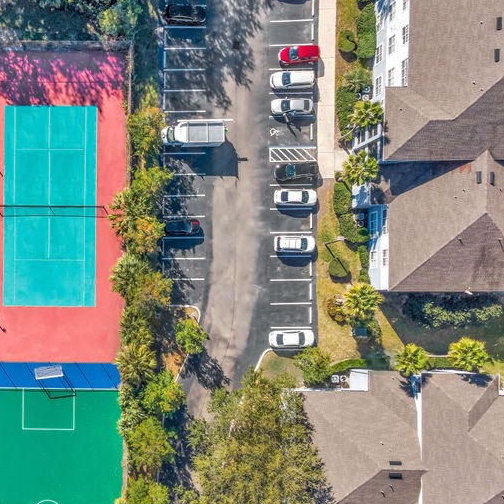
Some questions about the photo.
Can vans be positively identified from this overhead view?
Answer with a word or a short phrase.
Yes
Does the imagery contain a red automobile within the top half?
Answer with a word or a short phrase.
Yes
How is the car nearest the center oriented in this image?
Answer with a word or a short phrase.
horizontally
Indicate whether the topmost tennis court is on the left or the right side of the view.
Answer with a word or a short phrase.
left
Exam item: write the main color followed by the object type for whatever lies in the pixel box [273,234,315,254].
white car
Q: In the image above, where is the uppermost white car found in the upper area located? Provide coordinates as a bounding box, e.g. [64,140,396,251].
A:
[269,69,315,91]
